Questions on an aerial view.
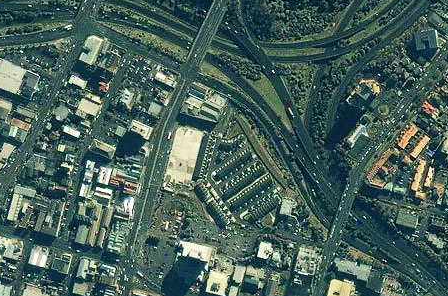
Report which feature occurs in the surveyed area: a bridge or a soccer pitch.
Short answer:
bridge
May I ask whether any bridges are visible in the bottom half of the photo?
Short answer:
Yes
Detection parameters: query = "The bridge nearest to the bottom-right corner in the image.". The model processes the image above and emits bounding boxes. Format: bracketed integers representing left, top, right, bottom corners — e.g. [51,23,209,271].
[325,167,363,250]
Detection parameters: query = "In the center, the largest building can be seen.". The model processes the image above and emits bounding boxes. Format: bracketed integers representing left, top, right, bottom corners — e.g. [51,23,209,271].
[165,126,206,182]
